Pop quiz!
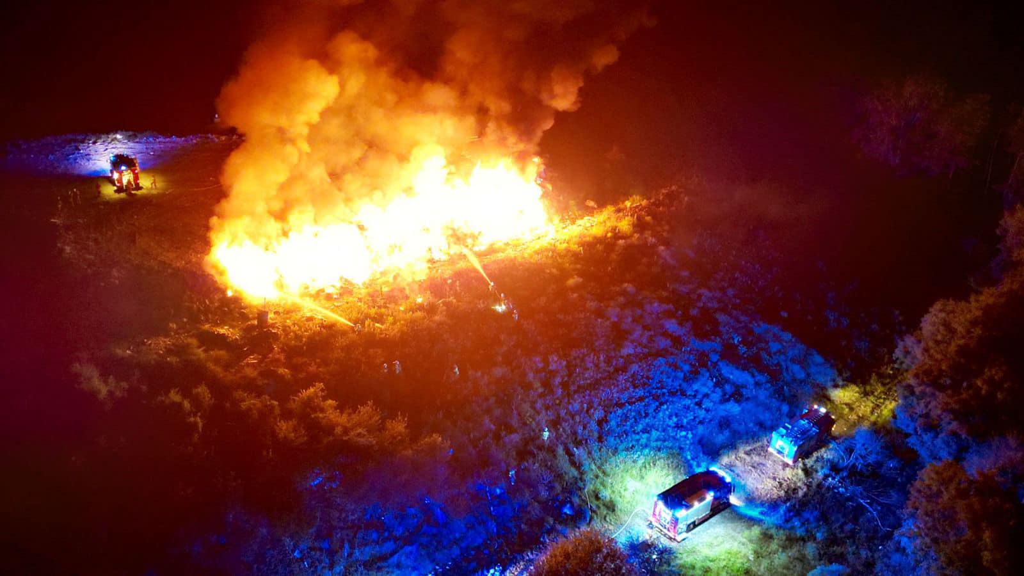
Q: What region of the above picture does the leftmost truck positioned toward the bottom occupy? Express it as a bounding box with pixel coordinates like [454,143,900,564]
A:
[647,462,740,543]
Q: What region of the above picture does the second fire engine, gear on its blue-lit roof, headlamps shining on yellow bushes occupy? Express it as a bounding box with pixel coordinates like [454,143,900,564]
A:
[767,397,841,463]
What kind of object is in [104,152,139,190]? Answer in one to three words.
truck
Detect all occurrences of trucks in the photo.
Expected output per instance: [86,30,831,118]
[647,462,740,543]
[767,397,841,463]
[104,152,139,190]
